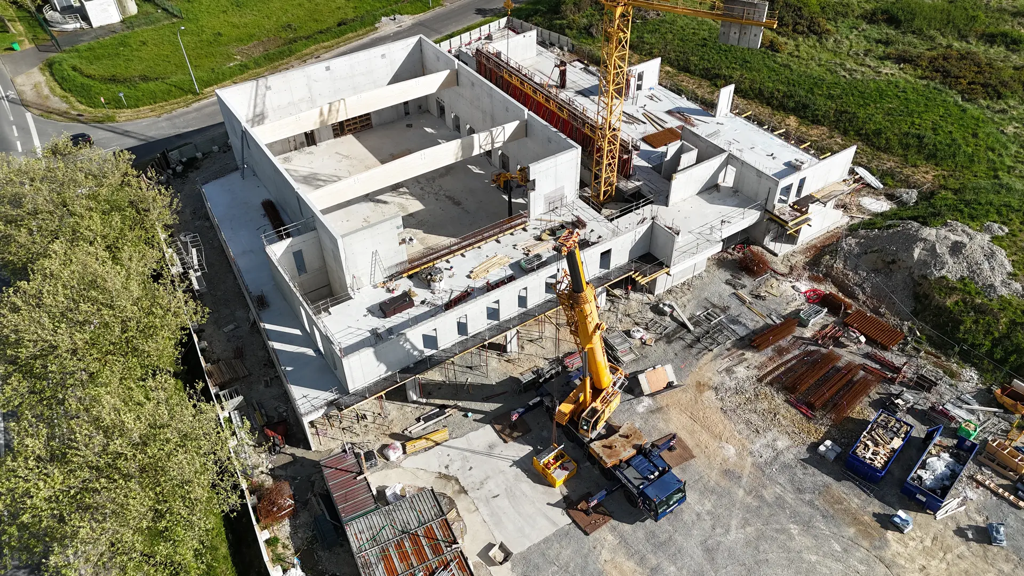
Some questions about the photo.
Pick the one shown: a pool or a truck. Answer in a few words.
truck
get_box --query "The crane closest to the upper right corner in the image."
[564,0,772,214]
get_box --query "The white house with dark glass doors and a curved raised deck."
[26,0,89,34]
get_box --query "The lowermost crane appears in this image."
[509,235,693,524]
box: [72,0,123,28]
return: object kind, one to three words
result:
shed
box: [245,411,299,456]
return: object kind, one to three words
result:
truck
